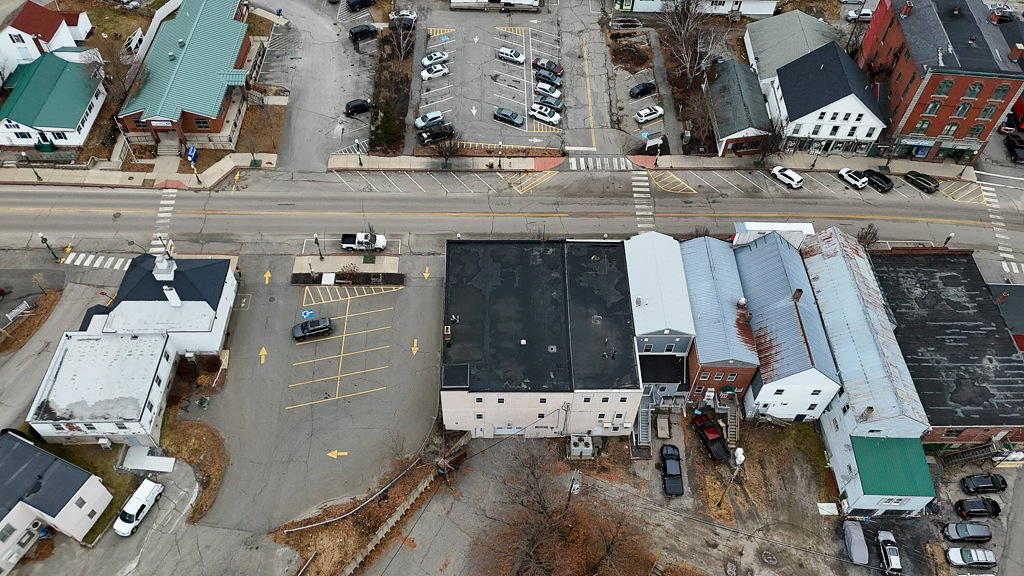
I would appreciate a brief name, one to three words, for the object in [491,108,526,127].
car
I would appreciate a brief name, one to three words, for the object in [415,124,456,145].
truck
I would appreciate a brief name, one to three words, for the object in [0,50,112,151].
building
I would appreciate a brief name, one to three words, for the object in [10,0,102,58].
house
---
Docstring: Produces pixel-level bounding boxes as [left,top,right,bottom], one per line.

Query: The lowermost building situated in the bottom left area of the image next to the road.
[0,430,114,572]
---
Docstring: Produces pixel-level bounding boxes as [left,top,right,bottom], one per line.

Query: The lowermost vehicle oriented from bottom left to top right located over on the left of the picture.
[111,477,167,534]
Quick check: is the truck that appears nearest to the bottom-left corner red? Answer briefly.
No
